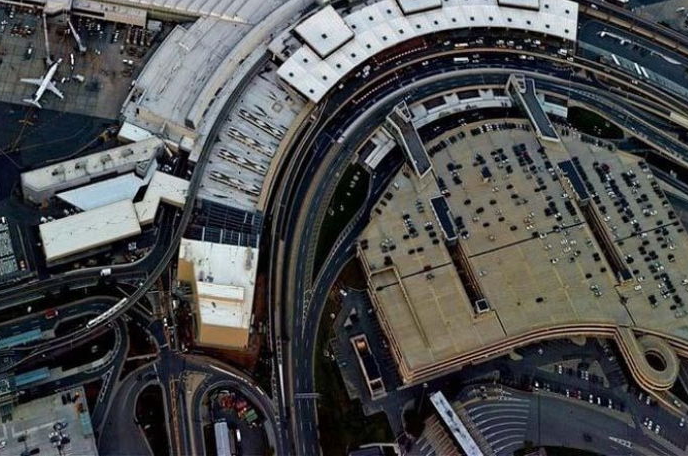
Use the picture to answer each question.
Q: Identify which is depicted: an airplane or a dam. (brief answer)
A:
airplane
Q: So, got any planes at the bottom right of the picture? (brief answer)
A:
No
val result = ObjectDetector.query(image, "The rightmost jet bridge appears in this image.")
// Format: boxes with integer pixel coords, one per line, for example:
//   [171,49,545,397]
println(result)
[65,10,89,53]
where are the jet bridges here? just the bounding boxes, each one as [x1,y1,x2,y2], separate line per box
[65,10,89,53]
[41,10,55,65]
